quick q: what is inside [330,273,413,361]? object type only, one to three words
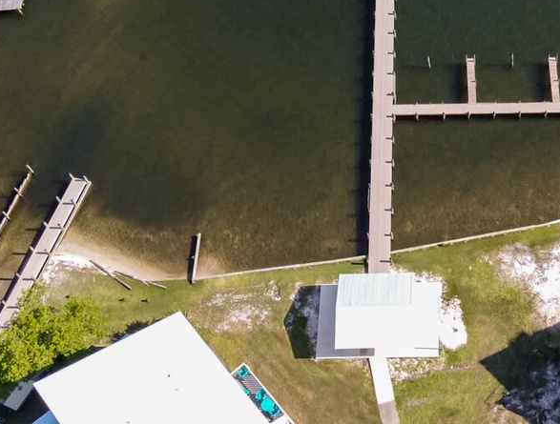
building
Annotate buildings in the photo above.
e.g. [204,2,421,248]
[330,273,413,361]
[33,311,297,424]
